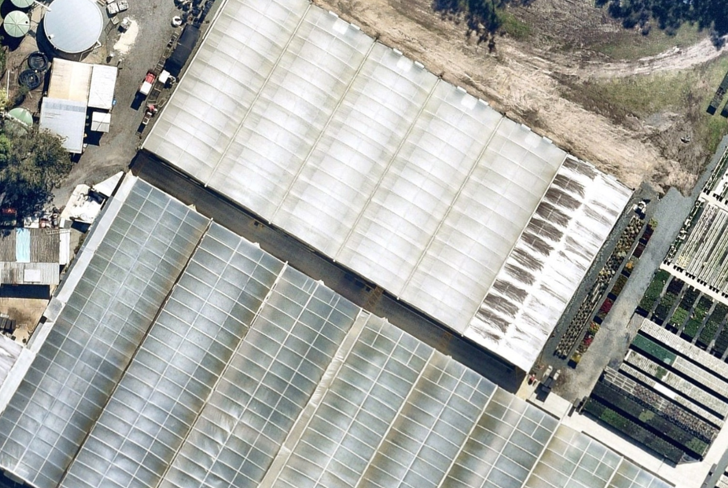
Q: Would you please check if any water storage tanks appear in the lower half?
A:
No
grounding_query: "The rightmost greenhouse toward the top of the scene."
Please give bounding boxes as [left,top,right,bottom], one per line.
[141,0,636,378]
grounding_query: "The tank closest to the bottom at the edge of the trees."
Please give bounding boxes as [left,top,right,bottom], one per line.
[7,107,36,137]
